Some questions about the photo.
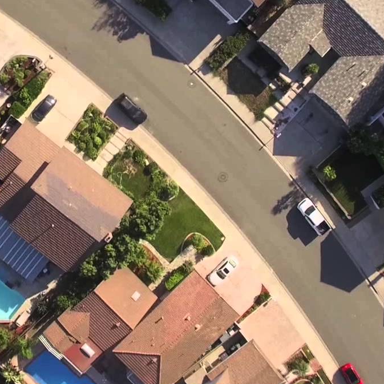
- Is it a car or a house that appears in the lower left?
house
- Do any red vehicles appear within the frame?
Yes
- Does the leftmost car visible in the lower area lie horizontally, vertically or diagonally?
diagonally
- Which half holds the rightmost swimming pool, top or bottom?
bottom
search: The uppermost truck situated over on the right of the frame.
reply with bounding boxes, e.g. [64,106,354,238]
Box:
[296,196,336,239]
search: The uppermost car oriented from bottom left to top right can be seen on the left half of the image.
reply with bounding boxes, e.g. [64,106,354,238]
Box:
[29,90,59,126]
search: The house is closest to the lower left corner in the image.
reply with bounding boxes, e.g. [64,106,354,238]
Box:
[39,270,157,374]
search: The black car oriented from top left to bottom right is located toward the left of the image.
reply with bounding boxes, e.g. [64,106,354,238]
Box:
[114,91,150,126]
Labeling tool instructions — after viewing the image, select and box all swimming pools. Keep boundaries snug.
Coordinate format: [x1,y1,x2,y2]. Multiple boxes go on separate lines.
[0,268,28,324]
[22,343,93,384]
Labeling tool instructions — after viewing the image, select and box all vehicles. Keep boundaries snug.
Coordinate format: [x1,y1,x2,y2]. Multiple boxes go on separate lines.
[206,254,241,288]
[296,196,336,239]
[29,90,59,126]
[114,91,150,126]
[338,360,362,384]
